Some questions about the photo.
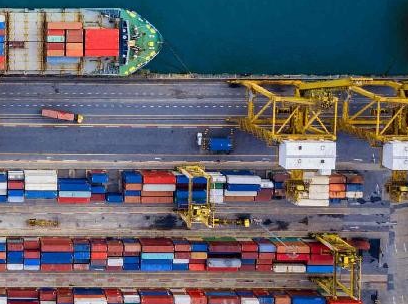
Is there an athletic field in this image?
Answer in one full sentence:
No, the picture doesn't show any athletic field.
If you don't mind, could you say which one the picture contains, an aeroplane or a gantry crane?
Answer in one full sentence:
This aerial view contains a gantry crane.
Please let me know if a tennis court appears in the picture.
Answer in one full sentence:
No, the picture doesn't show any tennis court.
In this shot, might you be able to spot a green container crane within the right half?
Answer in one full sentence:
No, no green container crane is visible within the right half.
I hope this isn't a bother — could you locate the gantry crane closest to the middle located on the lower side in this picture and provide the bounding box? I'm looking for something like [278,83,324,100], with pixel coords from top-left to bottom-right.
[172,162,214,228]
